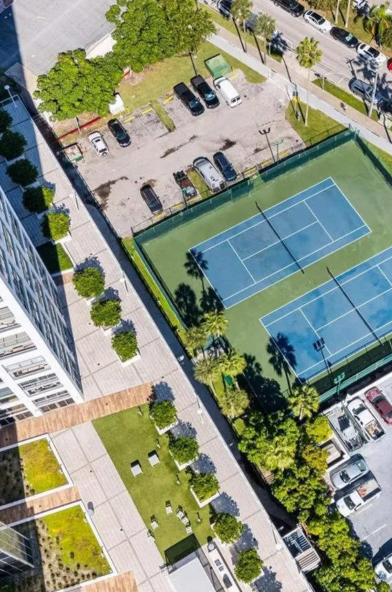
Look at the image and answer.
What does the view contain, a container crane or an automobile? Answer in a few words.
automobile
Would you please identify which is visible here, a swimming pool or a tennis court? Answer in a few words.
tennis court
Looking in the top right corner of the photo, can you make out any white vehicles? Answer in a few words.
Yes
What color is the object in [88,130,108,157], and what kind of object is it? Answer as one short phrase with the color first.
white car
